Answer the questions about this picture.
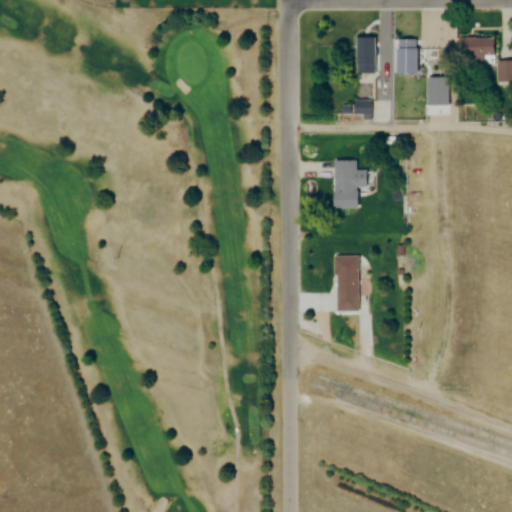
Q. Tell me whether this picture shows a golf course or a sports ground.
golf course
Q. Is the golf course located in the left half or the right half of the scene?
left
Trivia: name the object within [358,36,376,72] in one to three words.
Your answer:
house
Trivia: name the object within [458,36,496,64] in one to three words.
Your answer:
house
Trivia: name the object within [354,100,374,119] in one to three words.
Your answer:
building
